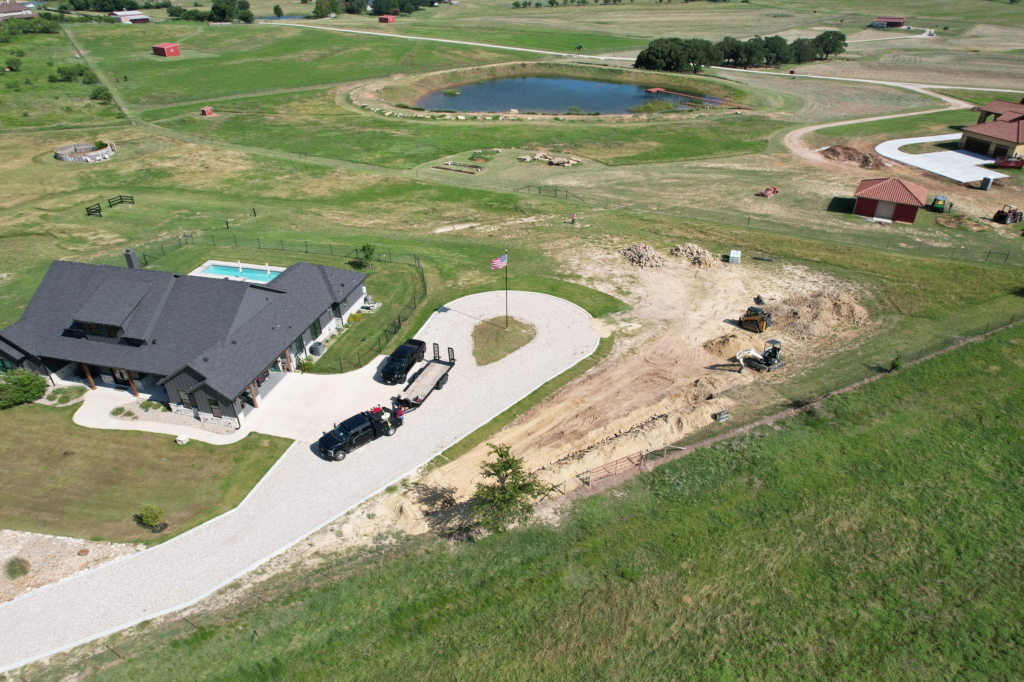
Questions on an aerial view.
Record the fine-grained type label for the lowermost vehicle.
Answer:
truck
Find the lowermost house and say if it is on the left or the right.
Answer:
left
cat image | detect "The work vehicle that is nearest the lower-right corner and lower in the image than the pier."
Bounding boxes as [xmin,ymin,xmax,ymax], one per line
[736,338,789,375]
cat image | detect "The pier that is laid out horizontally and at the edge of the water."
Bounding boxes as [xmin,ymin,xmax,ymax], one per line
[640,84,756,110]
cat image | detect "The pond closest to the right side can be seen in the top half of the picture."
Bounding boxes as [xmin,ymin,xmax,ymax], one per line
[421,74,708,113]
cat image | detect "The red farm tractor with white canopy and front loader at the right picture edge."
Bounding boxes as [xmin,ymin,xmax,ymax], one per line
[992,203,1024,224]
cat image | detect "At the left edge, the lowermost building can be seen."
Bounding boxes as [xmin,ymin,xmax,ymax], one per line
[0,244,369,431]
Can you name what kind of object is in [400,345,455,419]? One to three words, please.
trailer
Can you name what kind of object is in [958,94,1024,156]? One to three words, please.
house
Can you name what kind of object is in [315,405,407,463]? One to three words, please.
truck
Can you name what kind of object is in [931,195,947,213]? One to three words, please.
vehicle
